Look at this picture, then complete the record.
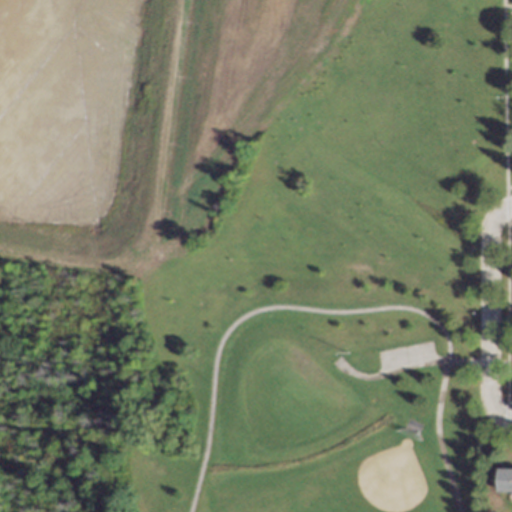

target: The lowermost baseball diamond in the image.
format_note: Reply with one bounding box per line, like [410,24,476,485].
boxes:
[358,438,428,512]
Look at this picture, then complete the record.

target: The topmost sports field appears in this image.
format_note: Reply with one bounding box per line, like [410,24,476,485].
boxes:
[245,337,372,447]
